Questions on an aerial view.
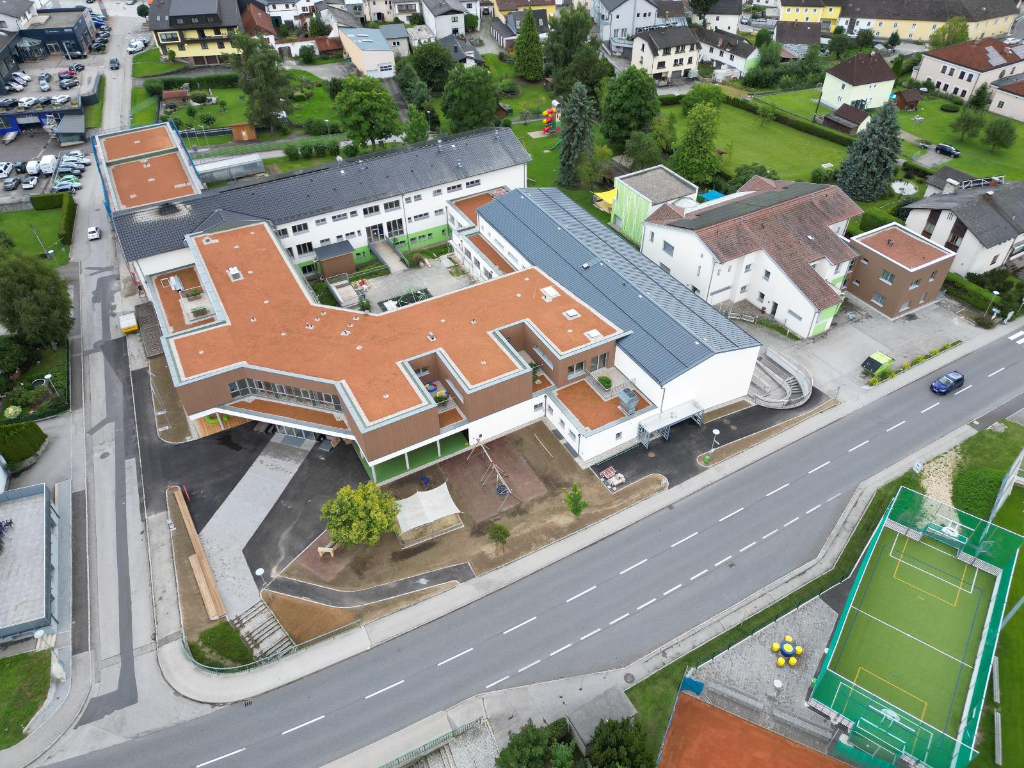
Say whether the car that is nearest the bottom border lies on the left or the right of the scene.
right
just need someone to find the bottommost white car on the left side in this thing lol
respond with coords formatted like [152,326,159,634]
[87,226,103,242]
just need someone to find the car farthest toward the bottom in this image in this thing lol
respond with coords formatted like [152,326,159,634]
[928,367,967,395]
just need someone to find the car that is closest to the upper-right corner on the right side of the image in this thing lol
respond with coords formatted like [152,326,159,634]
[934,142,962,158]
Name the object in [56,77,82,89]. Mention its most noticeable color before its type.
gray vehicle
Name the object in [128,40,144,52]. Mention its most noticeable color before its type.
white vehicle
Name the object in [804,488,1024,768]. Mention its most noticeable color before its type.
green sports court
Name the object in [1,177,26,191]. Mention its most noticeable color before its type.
gray car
